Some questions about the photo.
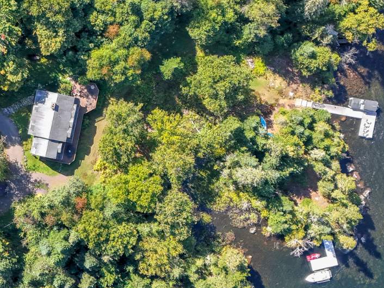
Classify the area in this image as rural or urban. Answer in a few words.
rural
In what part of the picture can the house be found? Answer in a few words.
left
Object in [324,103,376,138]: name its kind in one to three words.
pier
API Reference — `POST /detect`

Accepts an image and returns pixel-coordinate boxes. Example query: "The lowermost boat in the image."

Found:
[307,268,334,283]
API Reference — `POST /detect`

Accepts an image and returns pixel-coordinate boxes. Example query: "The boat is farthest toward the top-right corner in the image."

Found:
[349,98,381,112]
